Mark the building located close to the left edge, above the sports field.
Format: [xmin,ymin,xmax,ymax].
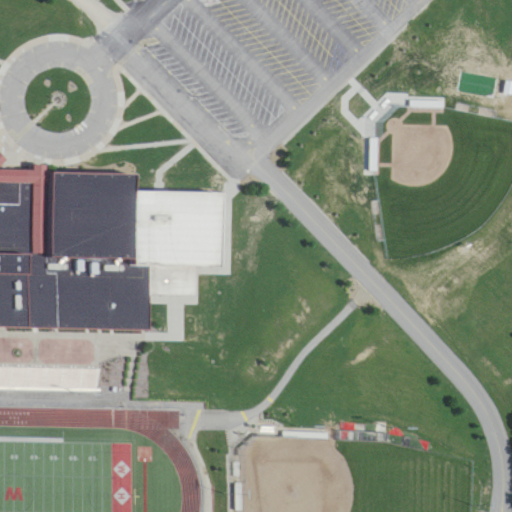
[0,165,151,329]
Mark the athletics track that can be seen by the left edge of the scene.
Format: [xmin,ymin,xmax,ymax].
[0,409,201,512]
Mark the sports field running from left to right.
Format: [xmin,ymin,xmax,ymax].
[0,428,182,512]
